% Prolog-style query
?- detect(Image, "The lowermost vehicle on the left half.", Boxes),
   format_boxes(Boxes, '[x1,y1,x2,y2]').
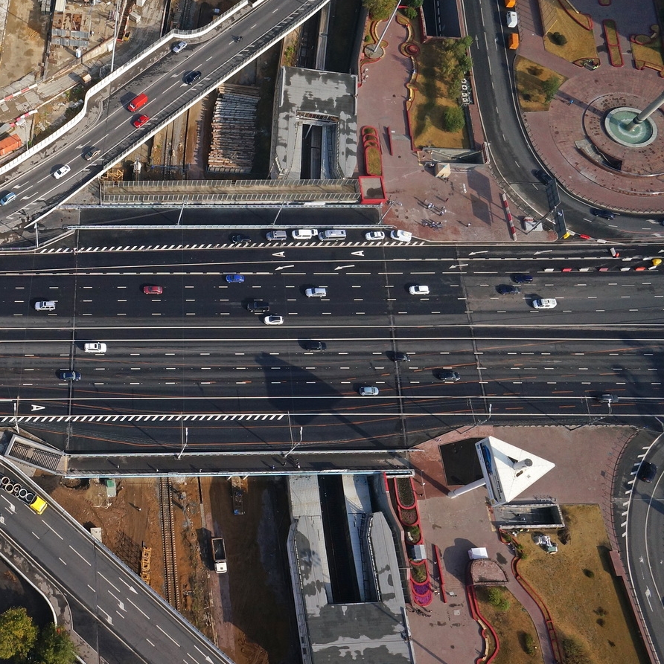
[212,535,228,576]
